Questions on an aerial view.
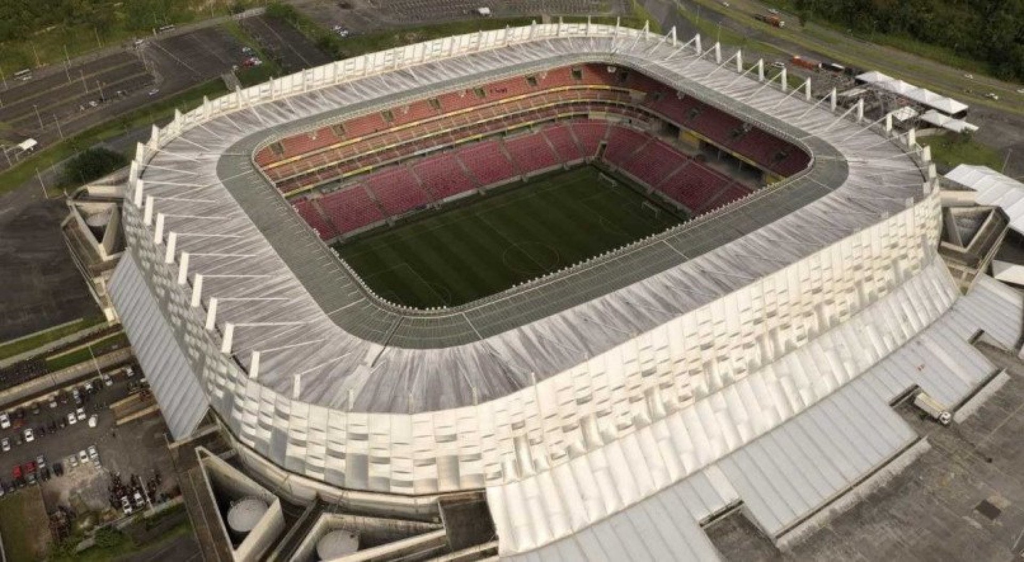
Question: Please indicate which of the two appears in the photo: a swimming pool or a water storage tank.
water storage tank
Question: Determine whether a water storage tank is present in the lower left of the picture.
Yes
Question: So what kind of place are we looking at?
sports ground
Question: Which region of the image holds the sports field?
center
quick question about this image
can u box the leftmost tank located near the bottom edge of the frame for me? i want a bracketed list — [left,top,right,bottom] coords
[224,496,265,544]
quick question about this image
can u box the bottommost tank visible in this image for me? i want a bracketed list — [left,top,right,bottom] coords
[314,531,365,560]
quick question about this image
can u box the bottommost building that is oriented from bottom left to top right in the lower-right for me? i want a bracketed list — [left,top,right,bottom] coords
[479,279,1024,562]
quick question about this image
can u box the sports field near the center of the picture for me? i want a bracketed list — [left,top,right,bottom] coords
[344,169,678,310]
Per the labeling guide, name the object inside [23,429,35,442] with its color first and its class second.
white vehicle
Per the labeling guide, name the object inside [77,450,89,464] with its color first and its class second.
white vehicle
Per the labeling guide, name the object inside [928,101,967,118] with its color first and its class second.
white tent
